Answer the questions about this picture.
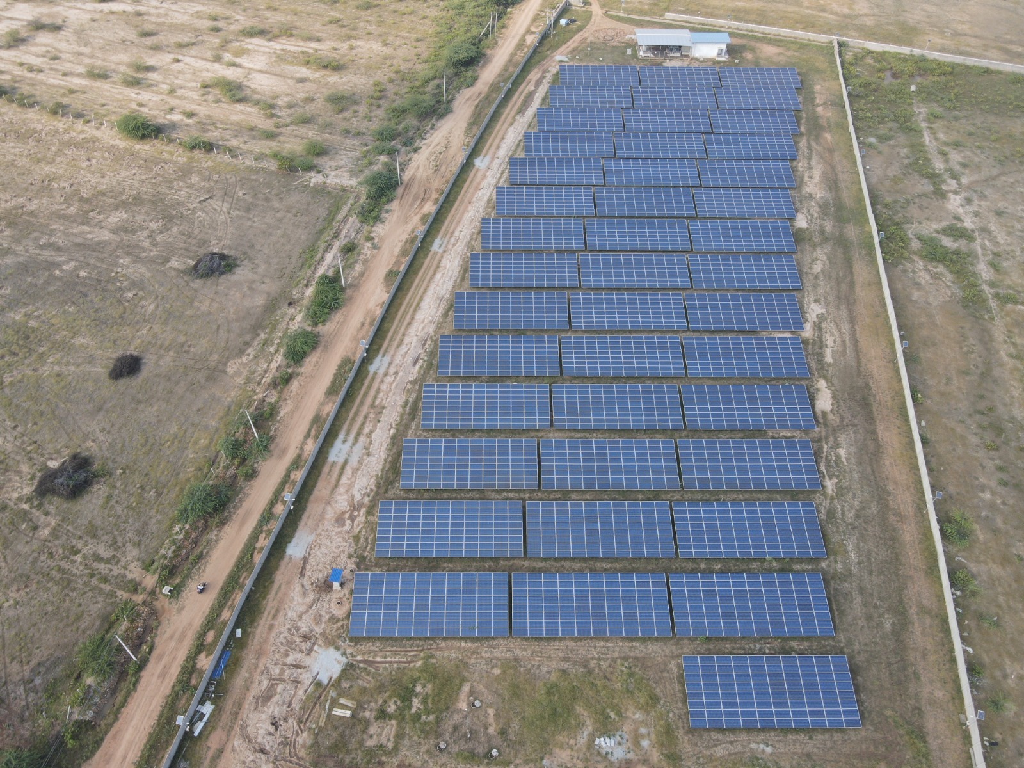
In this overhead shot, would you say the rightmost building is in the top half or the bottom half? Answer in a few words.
top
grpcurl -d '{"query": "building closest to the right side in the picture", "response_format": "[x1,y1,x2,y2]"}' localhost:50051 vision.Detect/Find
[688,32,730,61]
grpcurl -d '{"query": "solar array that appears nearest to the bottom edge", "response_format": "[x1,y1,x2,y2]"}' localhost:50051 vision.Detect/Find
[682,655,861,728]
